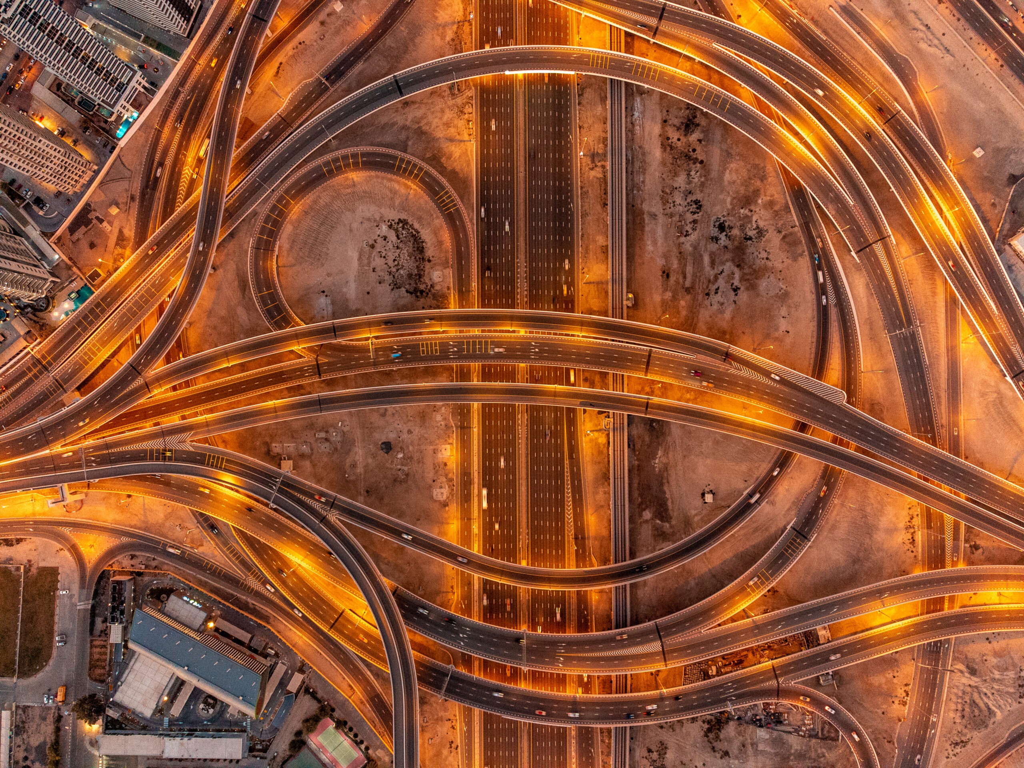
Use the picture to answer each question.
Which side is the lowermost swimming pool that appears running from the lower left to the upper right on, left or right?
left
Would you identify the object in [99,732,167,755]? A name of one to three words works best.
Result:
shed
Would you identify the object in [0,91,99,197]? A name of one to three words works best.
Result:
building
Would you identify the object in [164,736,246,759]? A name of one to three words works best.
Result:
shed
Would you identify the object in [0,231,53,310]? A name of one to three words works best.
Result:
building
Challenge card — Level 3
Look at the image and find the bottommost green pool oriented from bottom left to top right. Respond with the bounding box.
[68,284,94,311]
